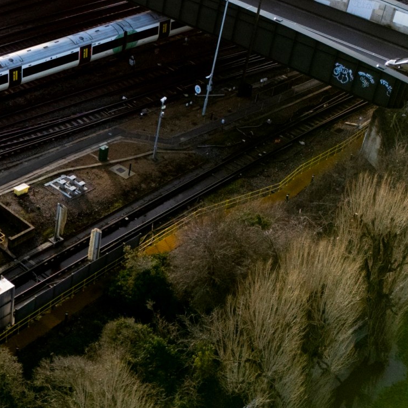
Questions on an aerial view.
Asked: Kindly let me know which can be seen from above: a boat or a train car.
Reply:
train car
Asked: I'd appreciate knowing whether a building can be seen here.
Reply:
No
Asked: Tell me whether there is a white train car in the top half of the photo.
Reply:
No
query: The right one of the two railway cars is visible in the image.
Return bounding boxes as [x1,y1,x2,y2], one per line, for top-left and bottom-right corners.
[111,9,199,51]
